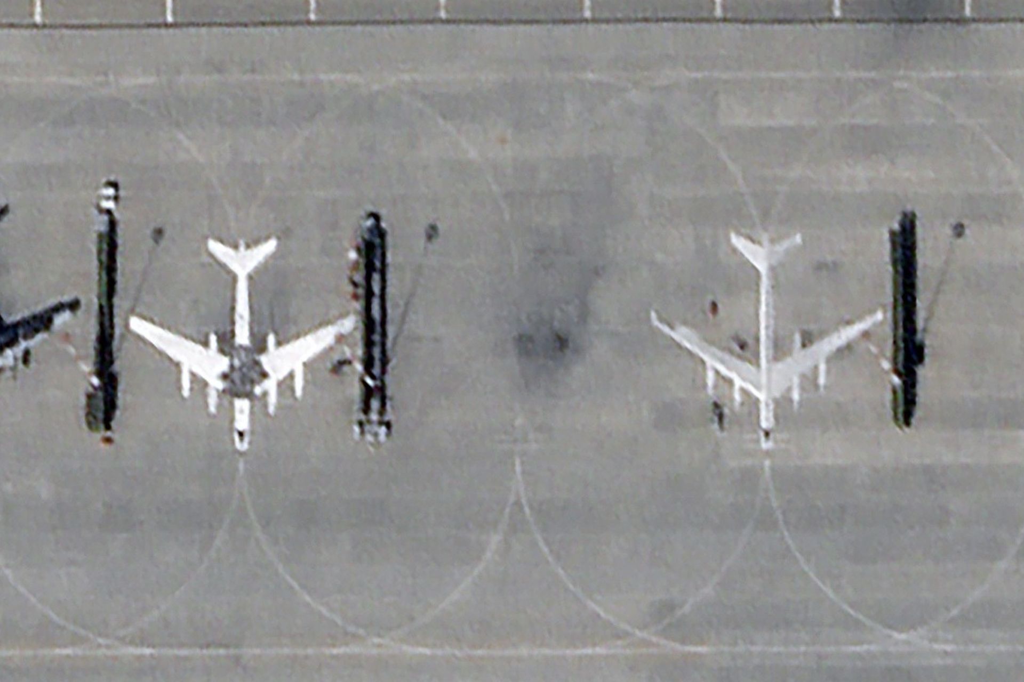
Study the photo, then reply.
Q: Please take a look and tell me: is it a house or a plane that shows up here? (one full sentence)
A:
Of the two, only a plane appears.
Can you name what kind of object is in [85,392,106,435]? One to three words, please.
truck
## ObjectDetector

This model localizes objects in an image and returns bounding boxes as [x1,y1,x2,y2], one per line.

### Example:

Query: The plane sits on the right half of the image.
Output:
[651,232,883,449]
